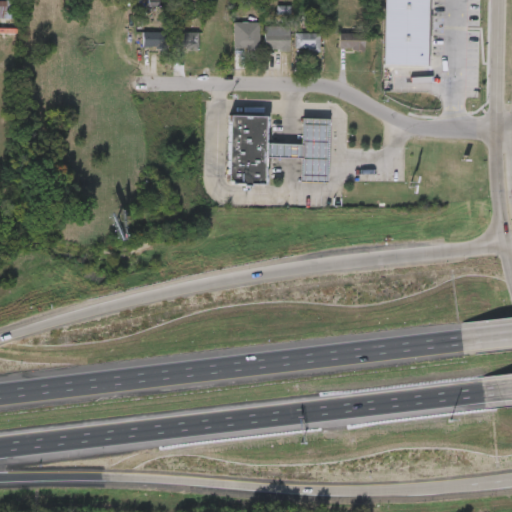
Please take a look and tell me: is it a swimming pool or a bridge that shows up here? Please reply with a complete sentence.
I can see a bridge in this picture.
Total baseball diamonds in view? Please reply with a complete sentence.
I count no baseball diamonds.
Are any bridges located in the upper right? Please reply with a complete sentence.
No, no bridge can be made out in the upper right.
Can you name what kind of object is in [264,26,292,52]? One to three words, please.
house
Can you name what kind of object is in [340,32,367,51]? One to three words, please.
house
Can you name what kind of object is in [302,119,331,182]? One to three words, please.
building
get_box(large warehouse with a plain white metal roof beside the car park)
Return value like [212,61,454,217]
[384,0,431,70]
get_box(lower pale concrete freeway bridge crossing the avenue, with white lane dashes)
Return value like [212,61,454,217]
[484,374,512,410]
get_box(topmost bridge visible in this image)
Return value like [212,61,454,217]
[463,316,512,354]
